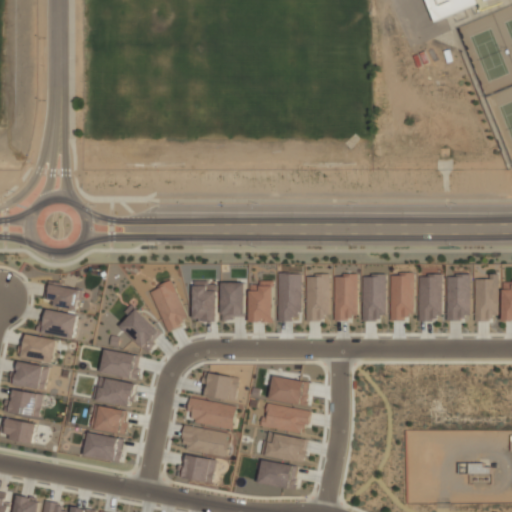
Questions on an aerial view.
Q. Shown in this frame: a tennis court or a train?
tennis court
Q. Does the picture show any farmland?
Yes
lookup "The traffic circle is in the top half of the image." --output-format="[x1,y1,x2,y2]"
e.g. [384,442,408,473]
[0,122,122,256]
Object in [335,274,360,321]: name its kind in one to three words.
house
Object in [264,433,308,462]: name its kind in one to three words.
house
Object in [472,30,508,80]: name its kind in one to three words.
tennis court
